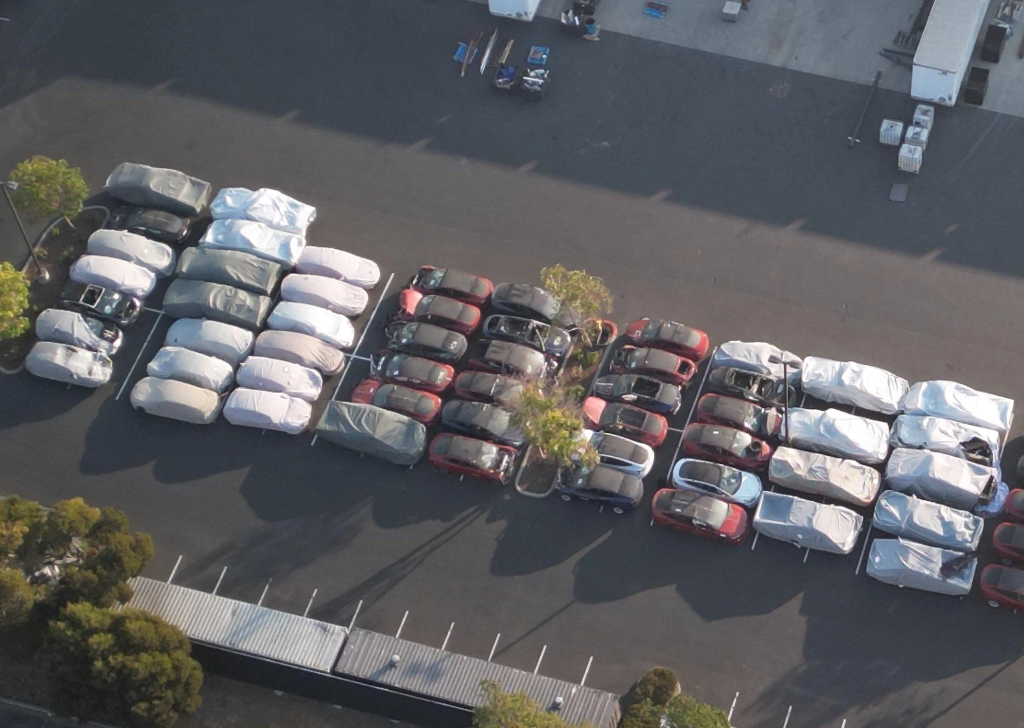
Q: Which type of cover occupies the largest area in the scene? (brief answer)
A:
paved ground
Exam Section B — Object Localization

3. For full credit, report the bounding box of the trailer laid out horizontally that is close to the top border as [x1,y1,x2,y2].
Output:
[489,0,541,21]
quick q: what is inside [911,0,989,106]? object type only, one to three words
trailer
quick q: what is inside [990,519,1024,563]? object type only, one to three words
car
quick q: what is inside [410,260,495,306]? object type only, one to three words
car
